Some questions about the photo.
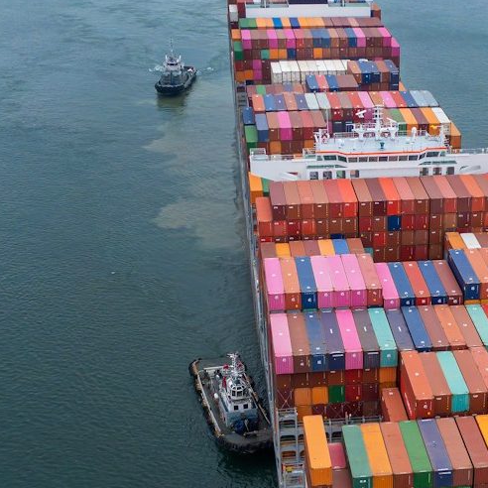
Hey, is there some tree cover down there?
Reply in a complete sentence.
No, no tree cover is visible.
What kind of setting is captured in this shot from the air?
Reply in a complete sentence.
It's a port.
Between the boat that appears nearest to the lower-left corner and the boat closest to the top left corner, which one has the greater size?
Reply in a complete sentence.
Of the two, the boat that appears nearest to the lower-left corner is larger and the boat closest to the top left corner is the smaller one.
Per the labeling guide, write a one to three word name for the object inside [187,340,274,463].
boat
